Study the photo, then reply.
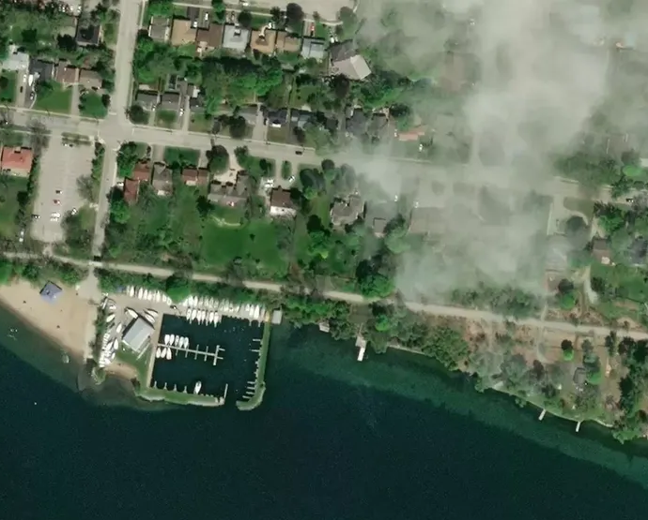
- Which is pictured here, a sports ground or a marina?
marina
